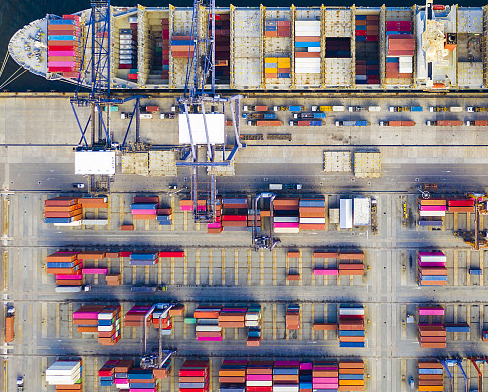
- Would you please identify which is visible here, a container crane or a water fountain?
container crane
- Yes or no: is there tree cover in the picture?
No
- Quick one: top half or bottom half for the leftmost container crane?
top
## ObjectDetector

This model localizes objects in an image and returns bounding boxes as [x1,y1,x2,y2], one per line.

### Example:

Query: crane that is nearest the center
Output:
[254,193,278,258]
